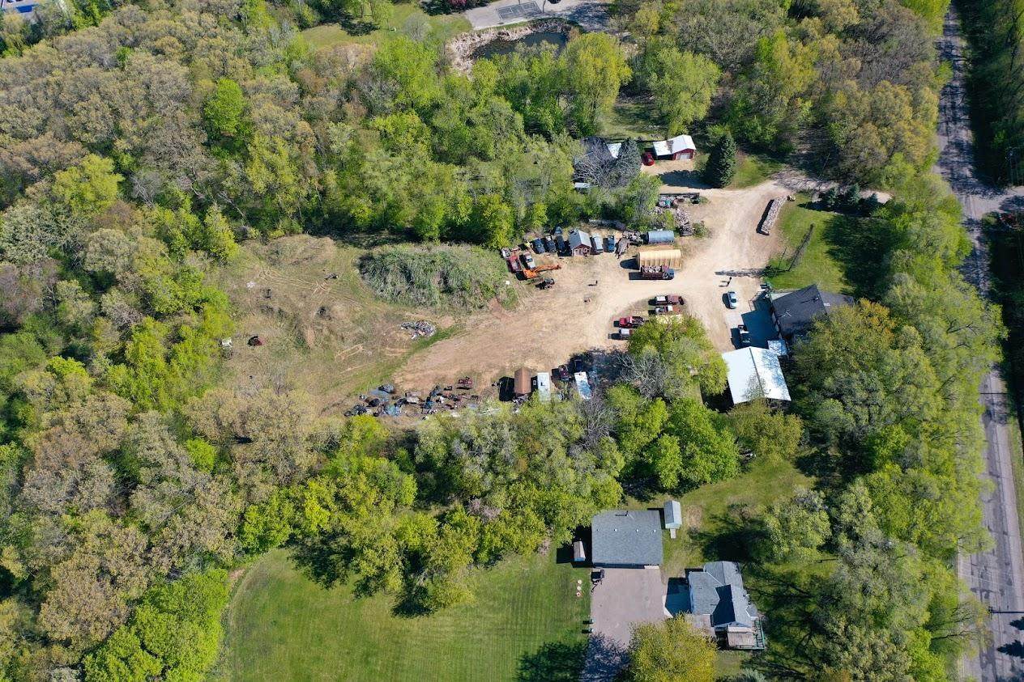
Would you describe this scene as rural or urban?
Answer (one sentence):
The land in this view is best described as rural.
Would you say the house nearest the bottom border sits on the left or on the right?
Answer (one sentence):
The house nearest the bottom border appears in the right half of the scene.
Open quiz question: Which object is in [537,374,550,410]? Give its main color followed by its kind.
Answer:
white vehicle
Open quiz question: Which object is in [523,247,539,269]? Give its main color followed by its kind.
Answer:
white vehicle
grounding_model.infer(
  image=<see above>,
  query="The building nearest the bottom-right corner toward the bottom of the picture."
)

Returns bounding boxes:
[687,562,758,628]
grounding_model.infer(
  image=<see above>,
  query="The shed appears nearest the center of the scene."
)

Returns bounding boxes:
[514,367,533,398]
